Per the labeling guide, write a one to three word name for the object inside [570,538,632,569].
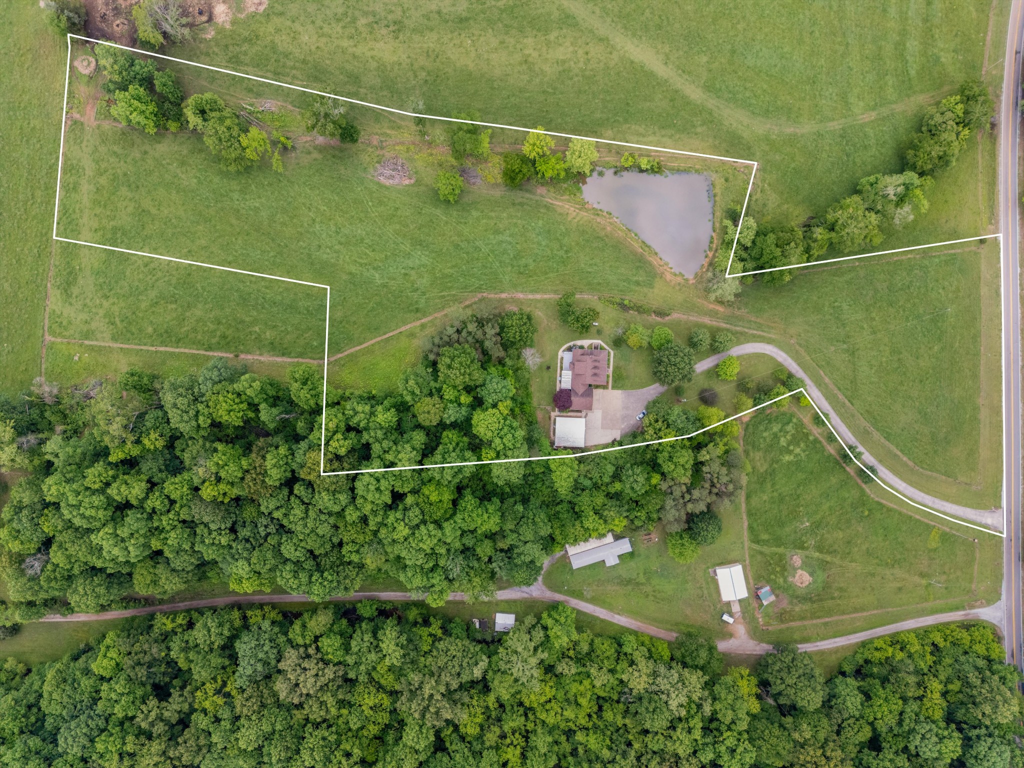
building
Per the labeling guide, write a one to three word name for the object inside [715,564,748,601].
barn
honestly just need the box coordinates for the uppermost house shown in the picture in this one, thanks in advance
[561,342,610,410]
